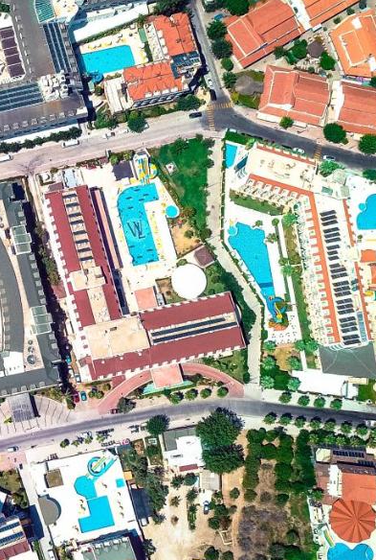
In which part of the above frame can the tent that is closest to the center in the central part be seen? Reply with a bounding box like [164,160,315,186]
[168,263,205,299]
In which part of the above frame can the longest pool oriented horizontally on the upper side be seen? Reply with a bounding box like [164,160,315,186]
[75,44,135,75]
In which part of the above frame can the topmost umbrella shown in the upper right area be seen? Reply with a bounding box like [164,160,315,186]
[308,41,325,59]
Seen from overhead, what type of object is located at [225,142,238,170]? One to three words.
swimming pool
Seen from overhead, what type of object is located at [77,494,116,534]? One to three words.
swimming pool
